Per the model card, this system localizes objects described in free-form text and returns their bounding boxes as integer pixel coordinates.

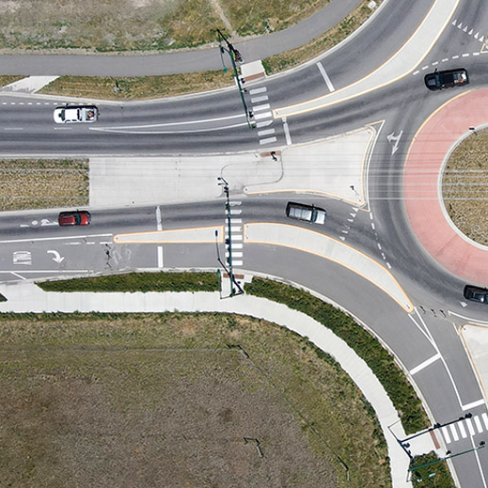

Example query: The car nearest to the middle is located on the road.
[286,204,327,224]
